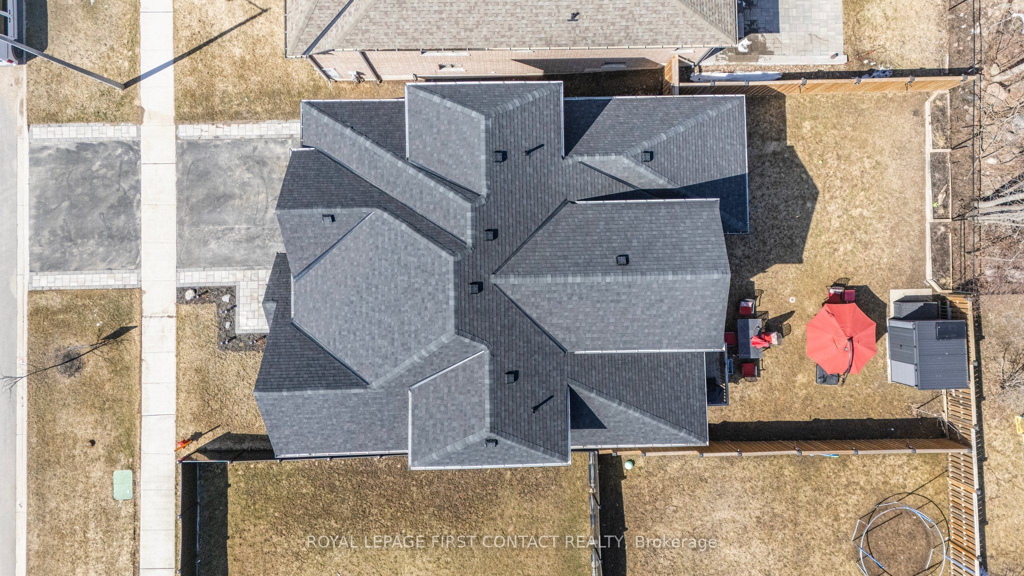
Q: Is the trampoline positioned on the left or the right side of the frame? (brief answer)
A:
right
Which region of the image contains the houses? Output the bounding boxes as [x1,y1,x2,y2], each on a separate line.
[253,79,751,472]
[282,0,741,89]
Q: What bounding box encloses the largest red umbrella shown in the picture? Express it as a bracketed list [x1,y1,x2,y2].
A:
[805,303,876,385]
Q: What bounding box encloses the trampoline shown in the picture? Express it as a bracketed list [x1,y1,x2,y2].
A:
[851,502,978,576]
